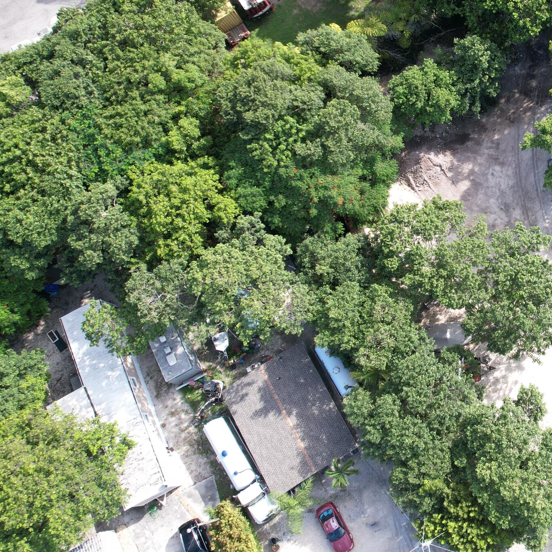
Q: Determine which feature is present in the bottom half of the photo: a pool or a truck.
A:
truck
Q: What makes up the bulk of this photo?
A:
trees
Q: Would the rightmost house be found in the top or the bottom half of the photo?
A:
bottom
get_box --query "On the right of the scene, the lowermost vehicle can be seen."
[317,500,357,552]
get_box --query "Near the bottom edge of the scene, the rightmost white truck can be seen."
[199,414,284,527]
